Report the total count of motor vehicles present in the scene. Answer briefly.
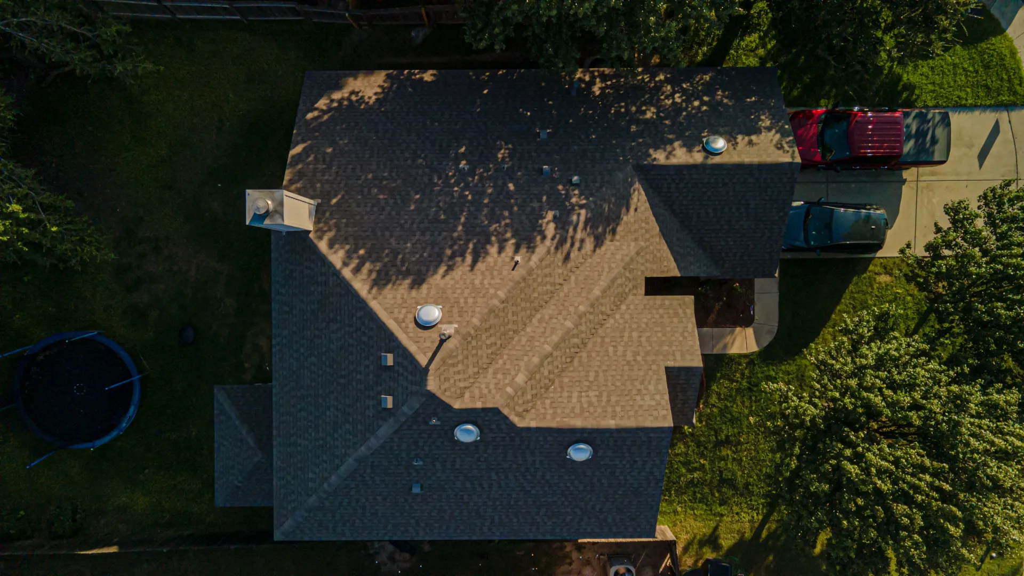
2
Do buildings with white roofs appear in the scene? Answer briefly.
No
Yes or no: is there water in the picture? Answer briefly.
No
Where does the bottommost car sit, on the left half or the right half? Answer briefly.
right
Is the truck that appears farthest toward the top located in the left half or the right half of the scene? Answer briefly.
right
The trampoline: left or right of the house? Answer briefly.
to its left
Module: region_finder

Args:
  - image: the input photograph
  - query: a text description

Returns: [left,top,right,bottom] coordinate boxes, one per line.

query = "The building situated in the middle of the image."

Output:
[214,66,800,542]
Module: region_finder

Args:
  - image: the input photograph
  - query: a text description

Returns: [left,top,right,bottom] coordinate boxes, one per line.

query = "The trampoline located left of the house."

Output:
[0,328,148,462]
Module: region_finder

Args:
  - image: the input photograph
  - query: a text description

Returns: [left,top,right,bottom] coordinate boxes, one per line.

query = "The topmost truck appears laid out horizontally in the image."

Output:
[788,100,952,174]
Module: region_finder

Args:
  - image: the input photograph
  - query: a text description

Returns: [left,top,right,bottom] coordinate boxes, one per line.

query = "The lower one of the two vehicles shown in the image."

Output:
[783,195,887,257]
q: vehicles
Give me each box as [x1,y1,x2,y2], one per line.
[788,100,952,174]
[783,195,887,257]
